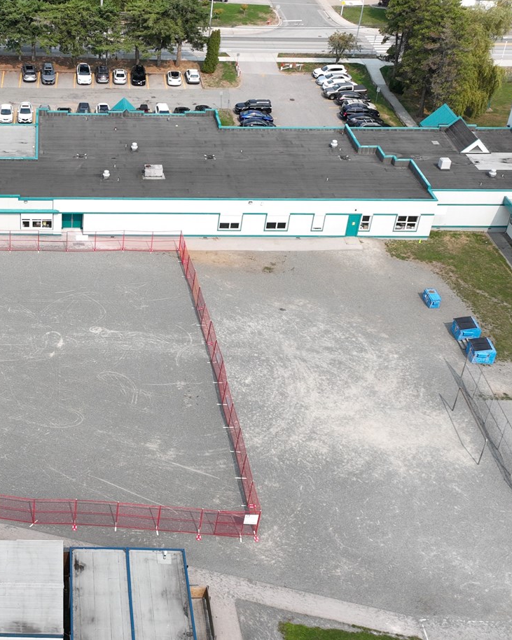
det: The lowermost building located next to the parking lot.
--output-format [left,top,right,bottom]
[0,90,512,243]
